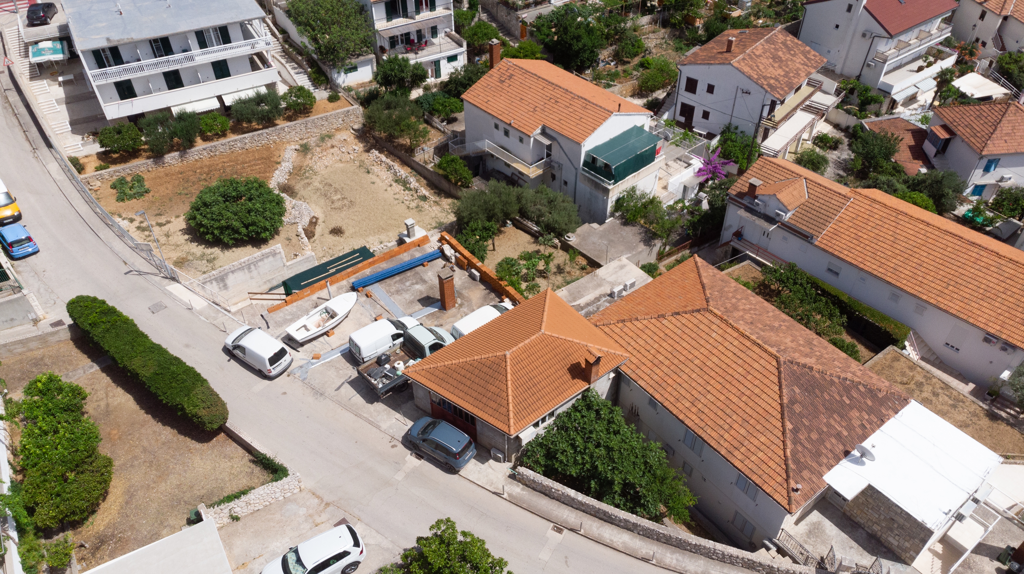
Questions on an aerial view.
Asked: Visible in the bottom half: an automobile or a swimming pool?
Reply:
automobile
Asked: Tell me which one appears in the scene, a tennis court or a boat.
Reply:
boat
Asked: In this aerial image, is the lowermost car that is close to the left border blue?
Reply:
Yes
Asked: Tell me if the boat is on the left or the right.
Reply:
left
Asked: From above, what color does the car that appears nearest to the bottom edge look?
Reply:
white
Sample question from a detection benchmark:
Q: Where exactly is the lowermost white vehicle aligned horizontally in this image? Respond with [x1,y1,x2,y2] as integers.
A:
[254,520,368,574]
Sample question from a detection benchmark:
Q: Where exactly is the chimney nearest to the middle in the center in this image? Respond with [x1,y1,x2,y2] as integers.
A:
[436,272,455,314]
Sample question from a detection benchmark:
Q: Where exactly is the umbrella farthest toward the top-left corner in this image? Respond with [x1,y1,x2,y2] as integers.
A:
[30,41,69,61]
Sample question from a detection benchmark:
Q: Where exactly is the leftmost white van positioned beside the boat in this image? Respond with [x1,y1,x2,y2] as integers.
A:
[219,322,295,379]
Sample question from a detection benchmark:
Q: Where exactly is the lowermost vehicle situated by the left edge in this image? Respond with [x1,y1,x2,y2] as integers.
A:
[0,217,39,257]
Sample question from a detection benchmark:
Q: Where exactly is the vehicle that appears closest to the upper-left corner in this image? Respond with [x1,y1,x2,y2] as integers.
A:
[24,0,60,24]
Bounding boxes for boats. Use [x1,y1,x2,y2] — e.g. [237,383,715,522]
[285,293,359,346]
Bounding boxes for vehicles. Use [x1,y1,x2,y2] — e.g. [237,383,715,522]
[24,0,60,24]
[348,312,428,363]
[219,322,295,379]
[405,414,482,476]
[454,304,513,340]
[254,520,368,574]
[0,165,22,217]
[357,326,454,396]
[0,217,39,257]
